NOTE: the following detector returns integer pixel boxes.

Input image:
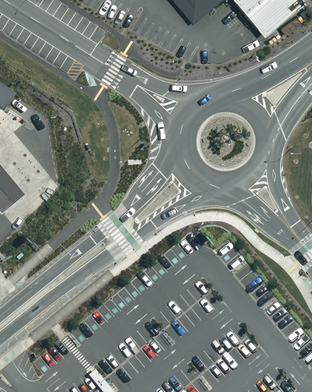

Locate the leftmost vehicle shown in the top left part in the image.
[12,100,27,112]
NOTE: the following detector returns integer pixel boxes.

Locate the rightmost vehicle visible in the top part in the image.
[261,62,278,74]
